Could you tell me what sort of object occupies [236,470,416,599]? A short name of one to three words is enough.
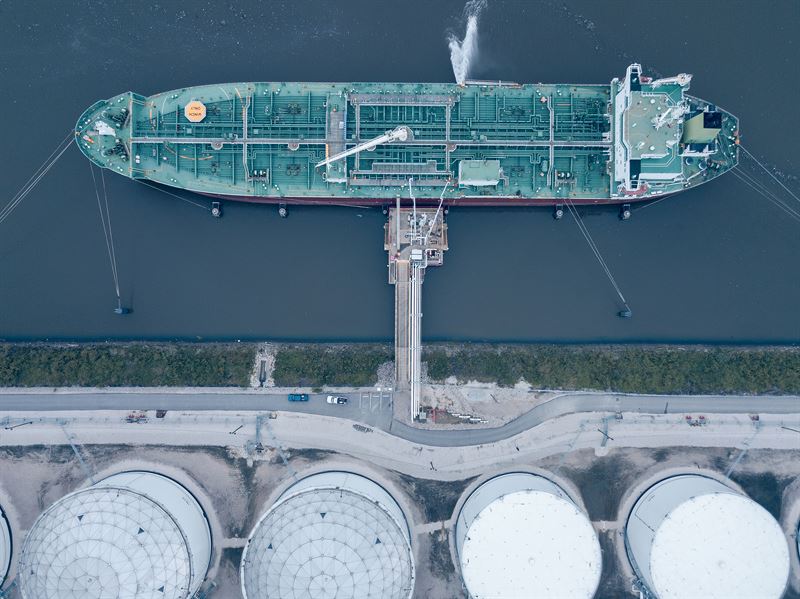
storage tank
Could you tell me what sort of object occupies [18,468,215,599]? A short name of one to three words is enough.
storage tank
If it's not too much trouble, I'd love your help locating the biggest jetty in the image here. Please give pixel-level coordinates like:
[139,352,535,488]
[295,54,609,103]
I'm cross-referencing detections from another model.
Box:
[384,208,448,421]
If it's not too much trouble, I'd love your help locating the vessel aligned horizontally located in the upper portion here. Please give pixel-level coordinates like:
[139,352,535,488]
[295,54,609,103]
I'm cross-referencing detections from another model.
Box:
[68,65,740,205]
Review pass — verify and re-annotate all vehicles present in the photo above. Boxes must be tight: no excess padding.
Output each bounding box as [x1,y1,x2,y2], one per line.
[327,396,348,405]
[288,394,309,402]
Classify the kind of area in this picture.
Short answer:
industrial area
